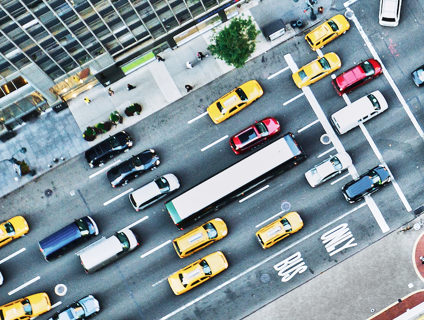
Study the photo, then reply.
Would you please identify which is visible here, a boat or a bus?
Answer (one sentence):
I can see a bus in this picture.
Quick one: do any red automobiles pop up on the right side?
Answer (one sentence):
Yes, you'll find a red automobile on the right side.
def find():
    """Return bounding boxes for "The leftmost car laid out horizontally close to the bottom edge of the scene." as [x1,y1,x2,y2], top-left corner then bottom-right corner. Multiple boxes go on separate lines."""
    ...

[0,293,53,320]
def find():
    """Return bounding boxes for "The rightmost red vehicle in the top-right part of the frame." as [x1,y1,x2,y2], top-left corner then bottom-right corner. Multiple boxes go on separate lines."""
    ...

[332,59,382,98]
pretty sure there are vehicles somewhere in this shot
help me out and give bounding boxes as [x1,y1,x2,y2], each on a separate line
[129,174,181,214]
[75,229,140,273]
[331,90,390,133]
[290,50,342,90]
[230,115,281,155]
[379,0,400,27]
[173,219,229,260]
[85,131,134,169]
[342,165,392,204]
[257,215,305,252]
[174,131,306,226]
[0,216,30,249]
[169,252,229,296]
[0,293,53,320]
[332,59,382,98]
[207,82,263,125]
[38,217,100,263]
[304,15,353,55]
[304,152,353,189]
[107,149,160,189]
[47,295,101,320]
